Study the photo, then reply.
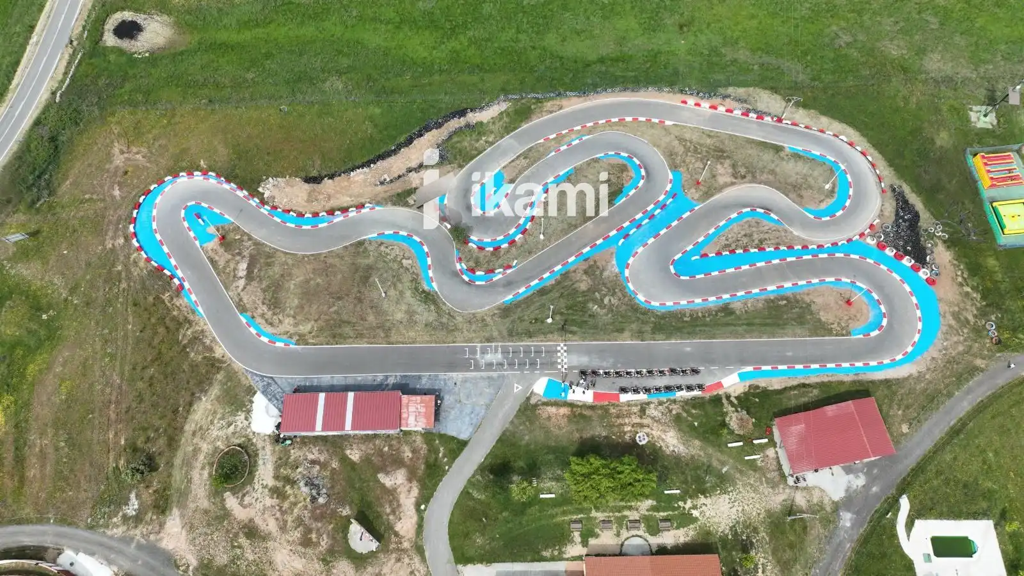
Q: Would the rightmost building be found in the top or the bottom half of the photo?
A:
bottom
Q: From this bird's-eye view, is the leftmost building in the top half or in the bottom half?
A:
bottom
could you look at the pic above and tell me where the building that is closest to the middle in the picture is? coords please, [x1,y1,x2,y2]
[401,395,435,430]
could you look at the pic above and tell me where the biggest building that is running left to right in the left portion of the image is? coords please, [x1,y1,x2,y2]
[281,391,401,435]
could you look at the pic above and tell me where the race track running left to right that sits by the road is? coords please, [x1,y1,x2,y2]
[157,100,917,376]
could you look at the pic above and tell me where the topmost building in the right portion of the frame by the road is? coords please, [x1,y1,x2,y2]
[770,397,895,476]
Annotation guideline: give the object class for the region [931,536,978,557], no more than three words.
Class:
swimming pool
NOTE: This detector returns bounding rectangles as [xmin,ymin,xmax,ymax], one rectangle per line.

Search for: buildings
[281,391,401,435]
[580,555,723,576]
[770,397,895,476]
